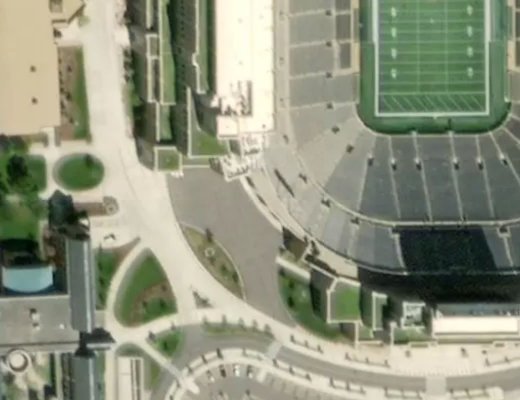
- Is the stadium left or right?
right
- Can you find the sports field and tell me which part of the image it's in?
top right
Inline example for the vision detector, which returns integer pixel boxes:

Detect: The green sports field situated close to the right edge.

[359,0,507,134]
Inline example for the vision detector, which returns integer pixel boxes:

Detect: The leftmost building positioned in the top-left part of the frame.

[0,0,60,134]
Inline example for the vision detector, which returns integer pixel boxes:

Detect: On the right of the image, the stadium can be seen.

[233,0,520,281]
